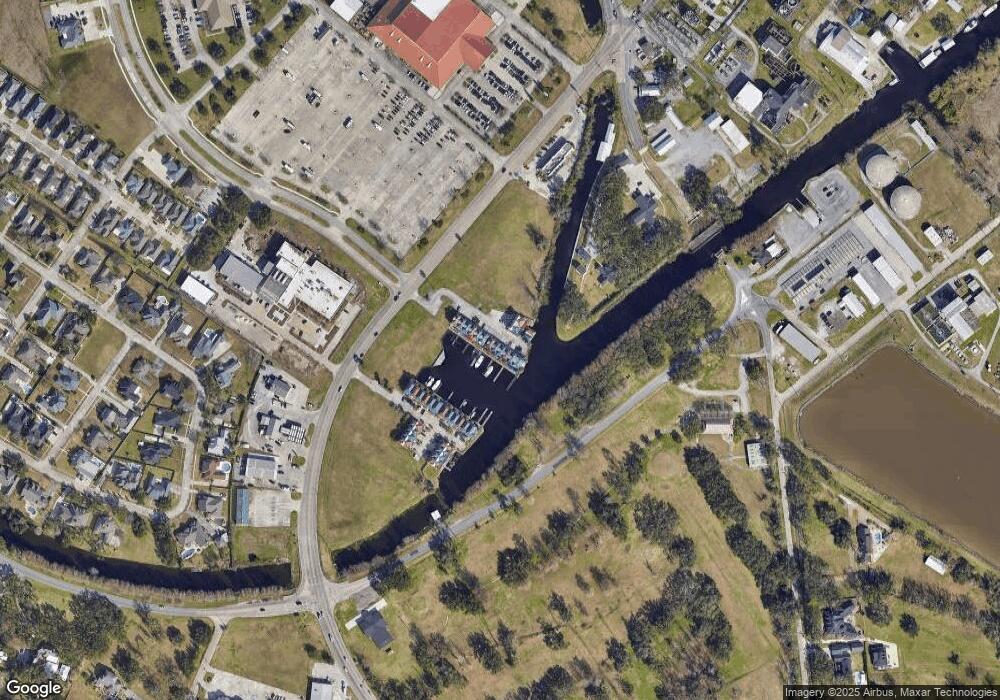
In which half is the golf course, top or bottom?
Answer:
bottom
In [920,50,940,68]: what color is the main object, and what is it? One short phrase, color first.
white boat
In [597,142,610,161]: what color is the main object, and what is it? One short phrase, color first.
white boat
